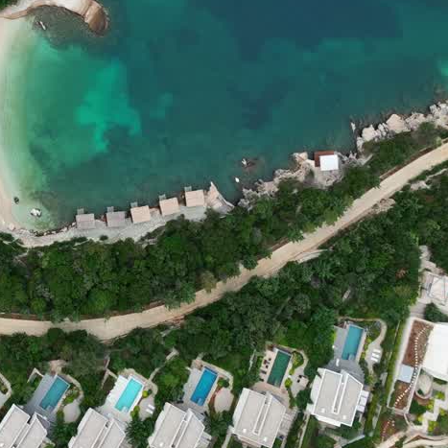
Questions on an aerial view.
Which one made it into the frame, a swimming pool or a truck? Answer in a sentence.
I can see a swimming pool in this picture.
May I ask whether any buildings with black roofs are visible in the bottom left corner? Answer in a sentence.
No, there is no building with a black roof in the bottom left corner.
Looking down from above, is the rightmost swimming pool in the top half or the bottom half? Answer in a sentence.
The rightmost swimming pool sits in the bottom half of the picture.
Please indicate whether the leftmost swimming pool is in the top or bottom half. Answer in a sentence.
The bottom half of the photo is where the leftmost swimming pool is.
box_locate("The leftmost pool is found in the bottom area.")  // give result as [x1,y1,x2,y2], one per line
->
[38,375,71,414]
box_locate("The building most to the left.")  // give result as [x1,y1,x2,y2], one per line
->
[0,399,54,448]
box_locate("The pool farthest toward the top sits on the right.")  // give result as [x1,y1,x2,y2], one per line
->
[340,323,365,361]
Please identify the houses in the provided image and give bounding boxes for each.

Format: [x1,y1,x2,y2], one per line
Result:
[0,399,54,448]
[228,383,291,448]
[149,399,210,448]
[68,405,129,448]
[307,364,369,426]
[418,321,448,376]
